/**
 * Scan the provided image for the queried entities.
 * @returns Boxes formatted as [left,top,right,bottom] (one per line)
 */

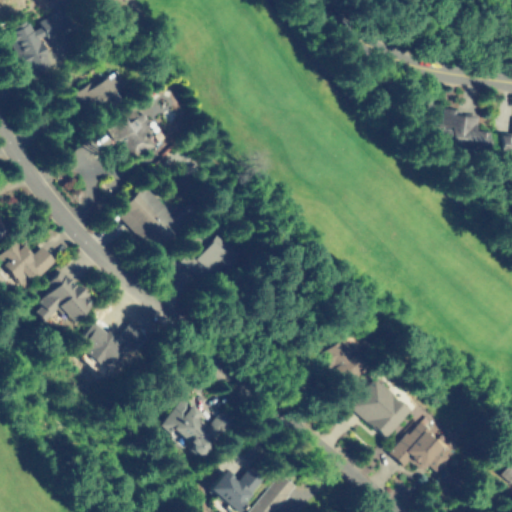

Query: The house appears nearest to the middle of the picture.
[193,237,240,279]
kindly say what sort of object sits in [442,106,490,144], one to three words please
house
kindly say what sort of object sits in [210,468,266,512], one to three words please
house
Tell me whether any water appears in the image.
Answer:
No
